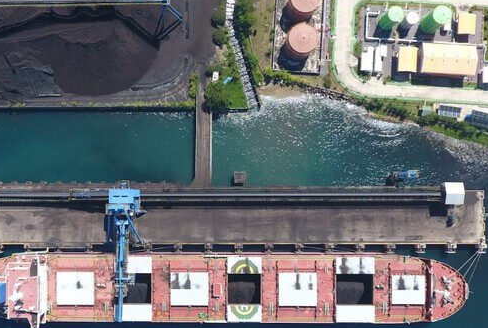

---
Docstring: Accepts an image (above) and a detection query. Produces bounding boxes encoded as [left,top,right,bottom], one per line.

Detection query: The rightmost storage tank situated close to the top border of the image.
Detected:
[420,5,452,33]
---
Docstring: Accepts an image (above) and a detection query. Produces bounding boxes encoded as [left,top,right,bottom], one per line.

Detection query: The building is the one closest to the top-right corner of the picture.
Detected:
[452,13,476,38]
